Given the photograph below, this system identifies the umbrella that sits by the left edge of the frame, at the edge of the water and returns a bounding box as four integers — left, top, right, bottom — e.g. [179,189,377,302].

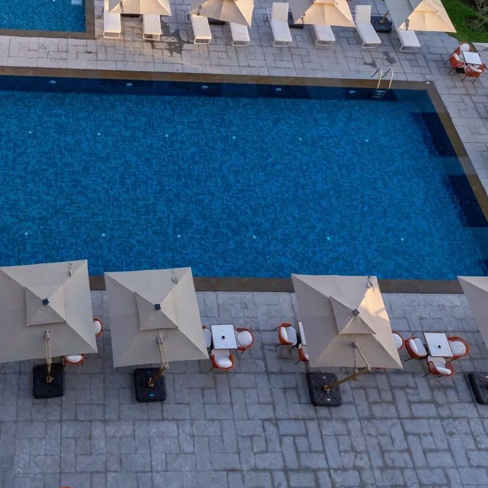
[0,263,99,398]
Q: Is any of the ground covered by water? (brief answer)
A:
Yes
